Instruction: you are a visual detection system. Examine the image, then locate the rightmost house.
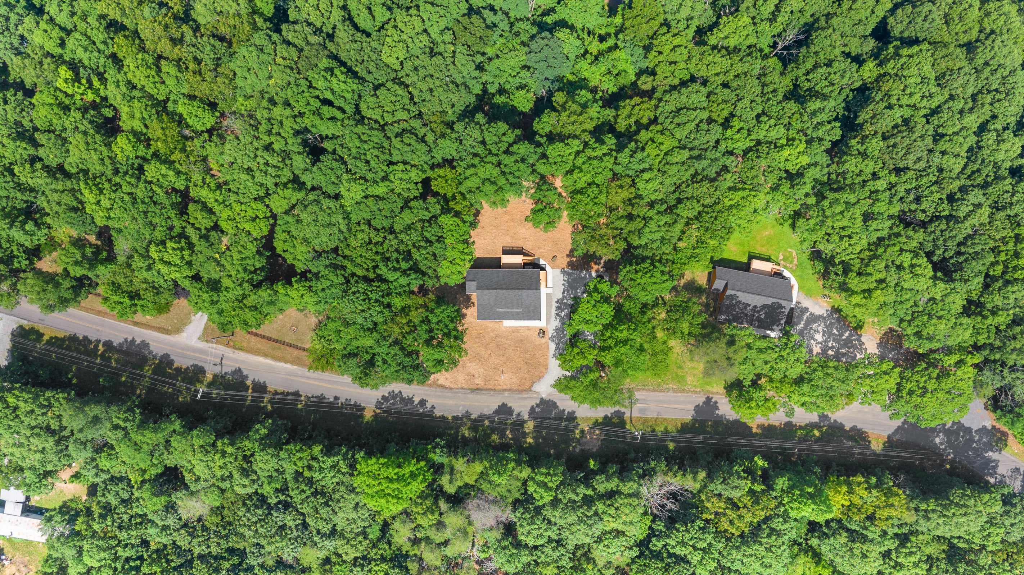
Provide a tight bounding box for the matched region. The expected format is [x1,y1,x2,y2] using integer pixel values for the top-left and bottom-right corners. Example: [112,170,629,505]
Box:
[708,258,792,331]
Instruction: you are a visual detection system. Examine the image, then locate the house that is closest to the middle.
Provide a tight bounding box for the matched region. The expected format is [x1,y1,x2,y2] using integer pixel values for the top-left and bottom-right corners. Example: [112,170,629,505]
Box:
[465,254,547,321]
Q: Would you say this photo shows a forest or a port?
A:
forest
